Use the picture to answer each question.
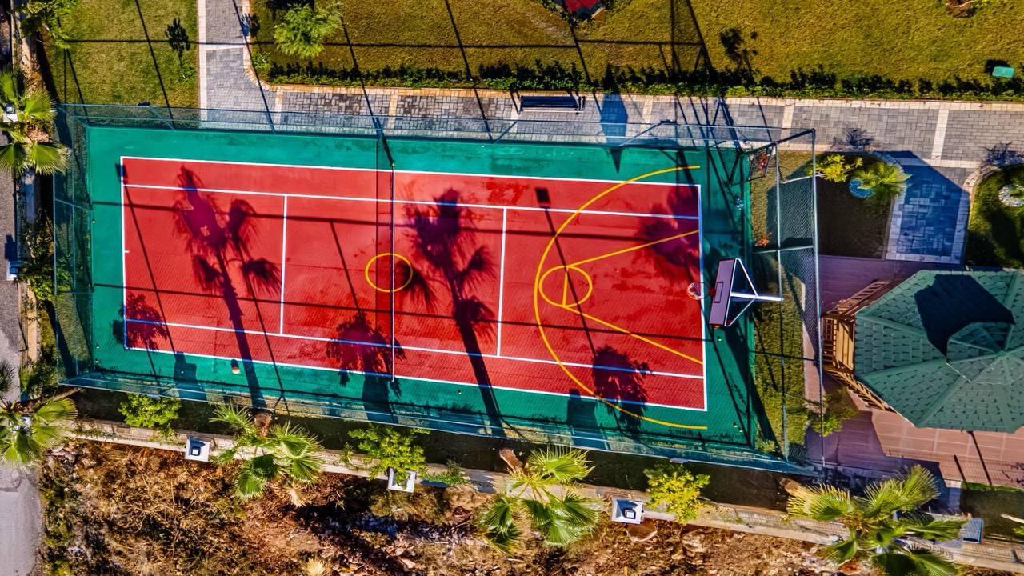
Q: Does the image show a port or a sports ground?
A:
sports ground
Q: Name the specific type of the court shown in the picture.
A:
tennis court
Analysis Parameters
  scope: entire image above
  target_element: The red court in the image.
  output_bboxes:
[91,129,757,451]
